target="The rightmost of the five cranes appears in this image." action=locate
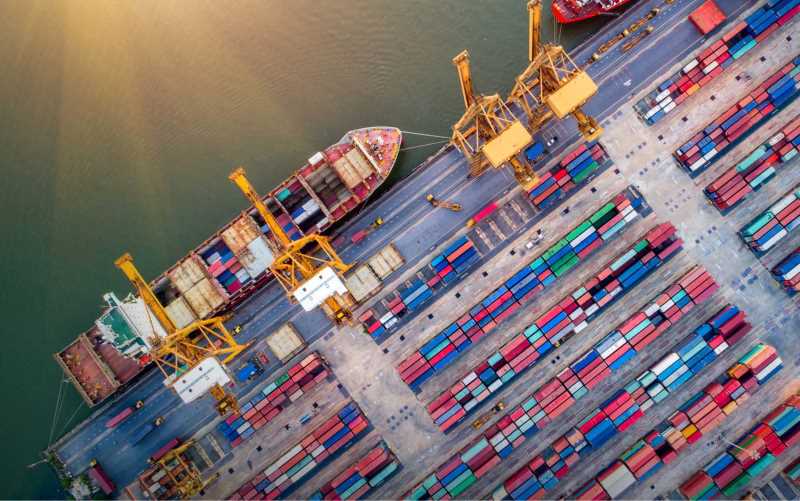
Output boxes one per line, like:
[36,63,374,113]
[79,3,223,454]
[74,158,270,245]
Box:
[498,0,605,142]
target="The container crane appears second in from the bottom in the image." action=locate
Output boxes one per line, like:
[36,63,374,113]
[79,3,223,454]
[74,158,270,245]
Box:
[107,255,261,421]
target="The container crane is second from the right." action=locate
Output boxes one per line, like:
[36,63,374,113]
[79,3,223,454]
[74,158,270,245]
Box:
[442,45,541,191]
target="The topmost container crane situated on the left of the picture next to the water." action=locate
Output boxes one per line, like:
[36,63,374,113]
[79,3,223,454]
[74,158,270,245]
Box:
[224,167,359,332]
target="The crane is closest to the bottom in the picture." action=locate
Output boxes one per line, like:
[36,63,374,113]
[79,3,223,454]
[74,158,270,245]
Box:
[130,439,222,501]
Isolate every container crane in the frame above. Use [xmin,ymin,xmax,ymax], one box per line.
[442,45,541,191]
[224,167,359,332]
[130,439,222,501]
[498,0,605,142]
[107,255,261,421]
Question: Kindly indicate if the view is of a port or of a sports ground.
port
